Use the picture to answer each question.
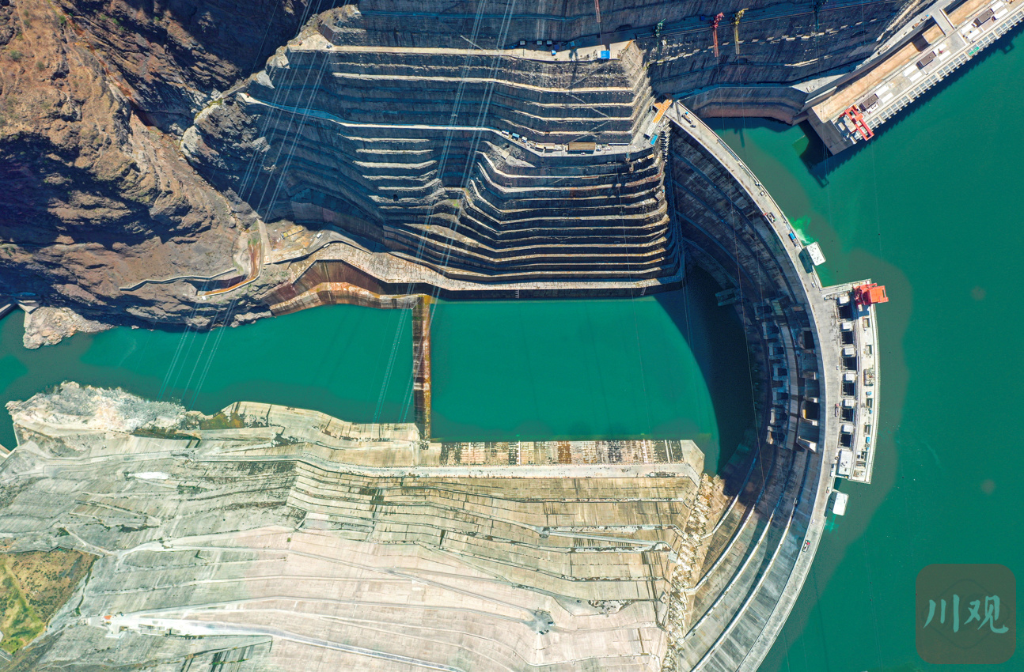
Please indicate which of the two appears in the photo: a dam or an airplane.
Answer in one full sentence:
The one in the frame is a dam.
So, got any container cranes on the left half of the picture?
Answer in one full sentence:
No, there is no container crane on the left half of the picture.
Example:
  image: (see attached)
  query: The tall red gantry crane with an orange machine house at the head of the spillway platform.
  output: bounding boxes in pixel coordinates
[848,294,891,317]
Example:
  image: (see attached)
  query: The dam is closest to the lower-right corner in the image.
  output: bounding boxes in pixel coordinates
[660,98,880,672]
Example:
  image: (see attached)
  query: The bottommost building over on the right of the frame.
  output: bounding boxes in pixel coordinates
[832,492,854,519]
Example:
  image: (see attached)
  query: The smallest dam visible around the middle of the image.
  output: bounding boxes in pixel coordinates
[415,296,432,442]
